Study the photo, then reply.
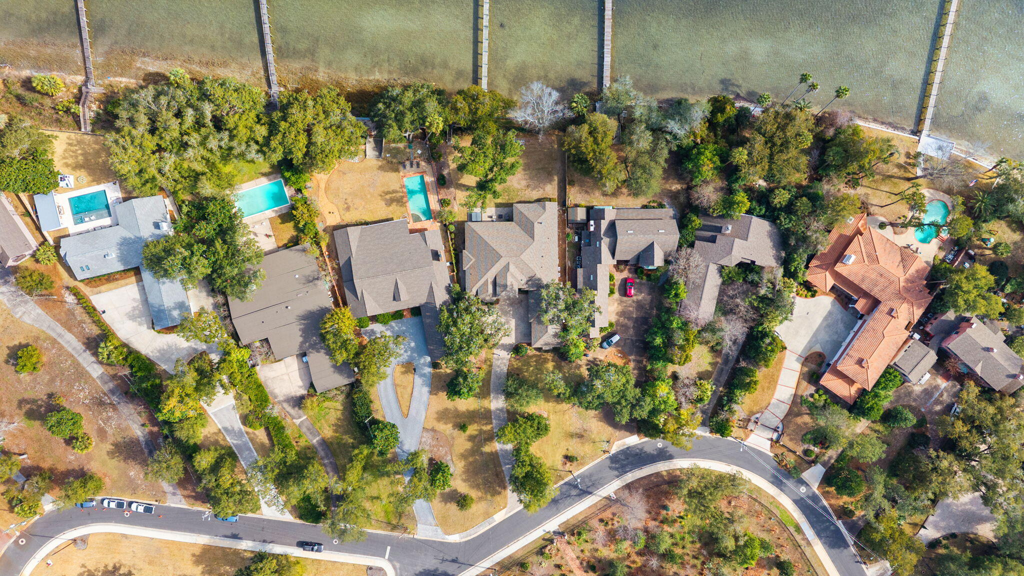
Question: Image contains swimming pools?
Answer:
Yes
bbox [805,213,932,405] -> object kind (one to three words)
house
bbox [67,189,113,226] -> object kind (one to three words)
swimming pool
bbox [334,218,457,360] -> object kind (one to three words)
house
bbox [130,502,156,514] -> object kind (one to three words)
vehicle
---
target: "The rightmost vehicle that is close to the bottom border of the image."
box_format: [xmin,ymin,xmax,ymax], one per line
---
[301,541,324,554]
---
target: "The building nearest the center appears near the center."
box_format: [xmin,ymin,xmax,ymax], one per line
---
[463,202,566,350]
